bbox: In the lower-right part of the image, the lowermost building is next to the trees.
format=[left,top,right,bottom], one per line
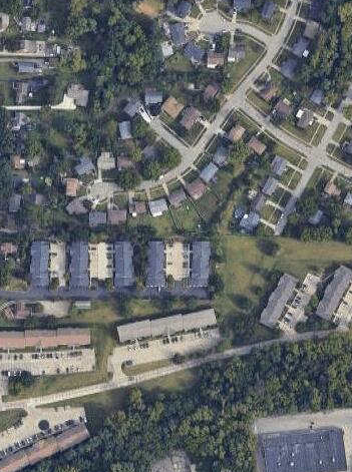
[262,427,347,472]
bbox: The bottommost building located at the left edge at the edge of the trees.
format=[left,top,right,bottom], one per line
[0,424,89,472]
